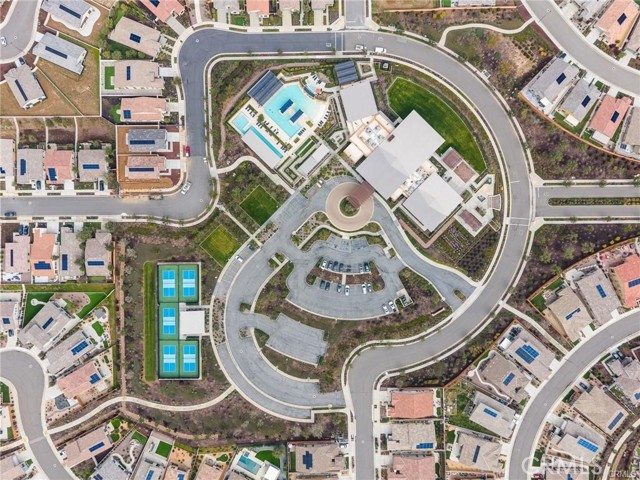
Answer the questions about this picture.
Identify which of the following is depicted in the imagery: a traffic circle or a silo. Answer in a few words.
traffic circle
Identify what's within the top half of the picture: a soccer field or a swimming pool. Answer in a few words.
swimming pool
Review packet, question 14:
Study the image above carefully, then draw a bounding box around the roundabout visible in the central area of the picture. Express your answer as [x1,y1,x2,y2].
[325,182,374,231]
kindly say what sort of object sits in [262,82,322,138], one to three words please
swimming pool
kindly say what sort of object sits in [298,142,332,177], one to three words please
building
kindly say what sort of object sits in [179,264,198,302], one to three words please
sports court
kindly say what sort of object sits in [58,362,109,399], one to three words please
house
